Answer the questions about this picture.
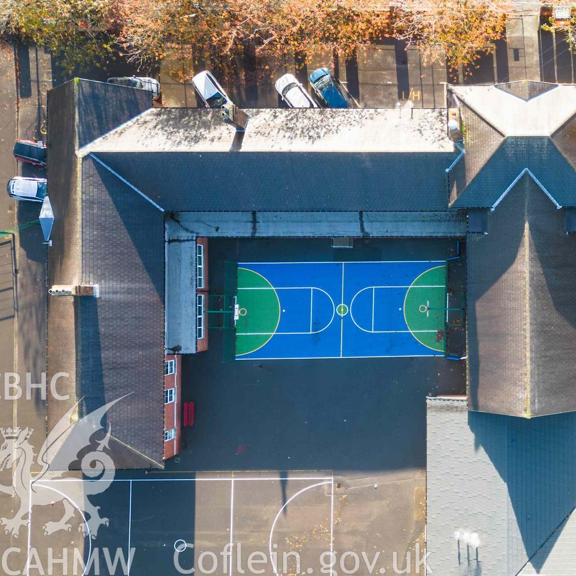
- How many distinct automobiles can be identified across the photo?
6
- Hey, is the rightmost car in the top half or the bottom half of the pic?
top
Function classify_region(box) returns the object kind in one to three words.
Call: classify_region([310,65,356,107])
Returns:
car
